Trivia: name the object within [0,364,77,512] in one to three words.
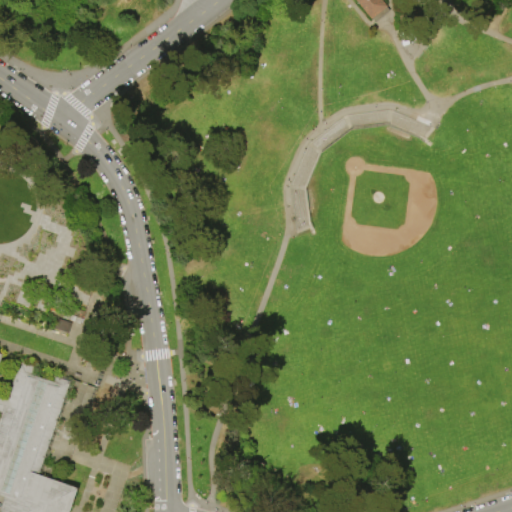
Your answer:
building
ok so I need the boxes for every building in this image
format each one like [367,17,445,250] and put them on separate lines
[0,364,77,512]
[357,0,390,21]
[54,318,73,334]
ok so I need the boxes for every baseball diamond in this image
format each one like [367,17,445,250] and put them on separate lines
[342,156,438,256]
